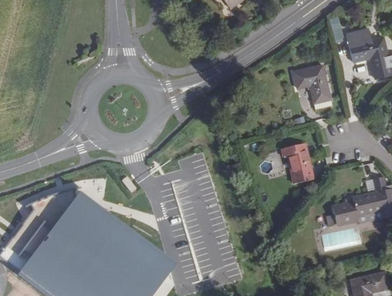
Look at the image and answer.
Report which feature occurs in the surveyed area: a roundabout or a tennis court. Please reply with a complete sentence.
Of the two, only a roundabout appears.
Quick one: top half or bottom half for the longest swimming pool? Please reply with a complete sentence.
Seen from above, the longest swimming pool lies in the bottom half of the view.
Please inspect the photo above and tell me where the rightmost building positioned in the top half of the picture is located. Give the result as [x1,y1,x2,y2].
[346,28,392,80]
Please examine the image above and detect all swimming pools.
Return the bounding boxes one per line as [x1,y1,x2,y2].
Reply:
[260,162,272,173]
[320,226,364,252]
